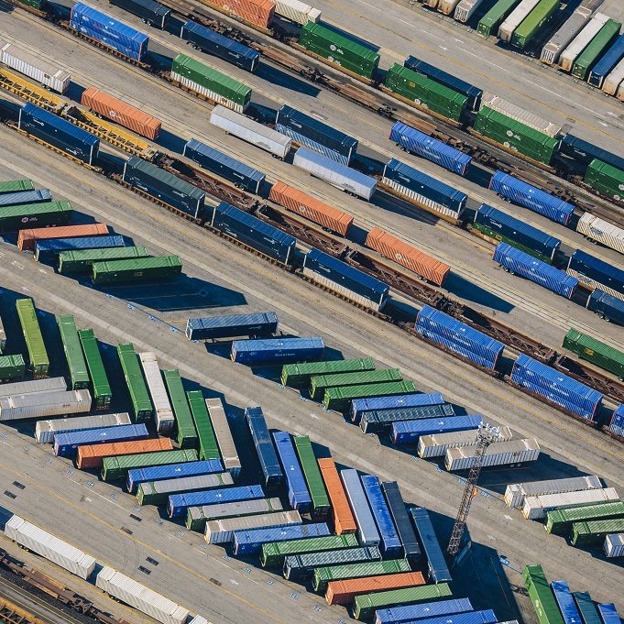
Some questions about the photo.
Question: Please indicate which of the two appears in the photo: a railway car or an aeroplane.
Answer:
railway car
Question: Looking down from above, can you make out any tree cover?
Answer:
No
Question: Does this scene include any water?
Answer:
No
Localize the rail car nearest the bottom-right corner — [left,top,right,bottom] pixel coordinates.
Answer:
[599,422,624,449]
